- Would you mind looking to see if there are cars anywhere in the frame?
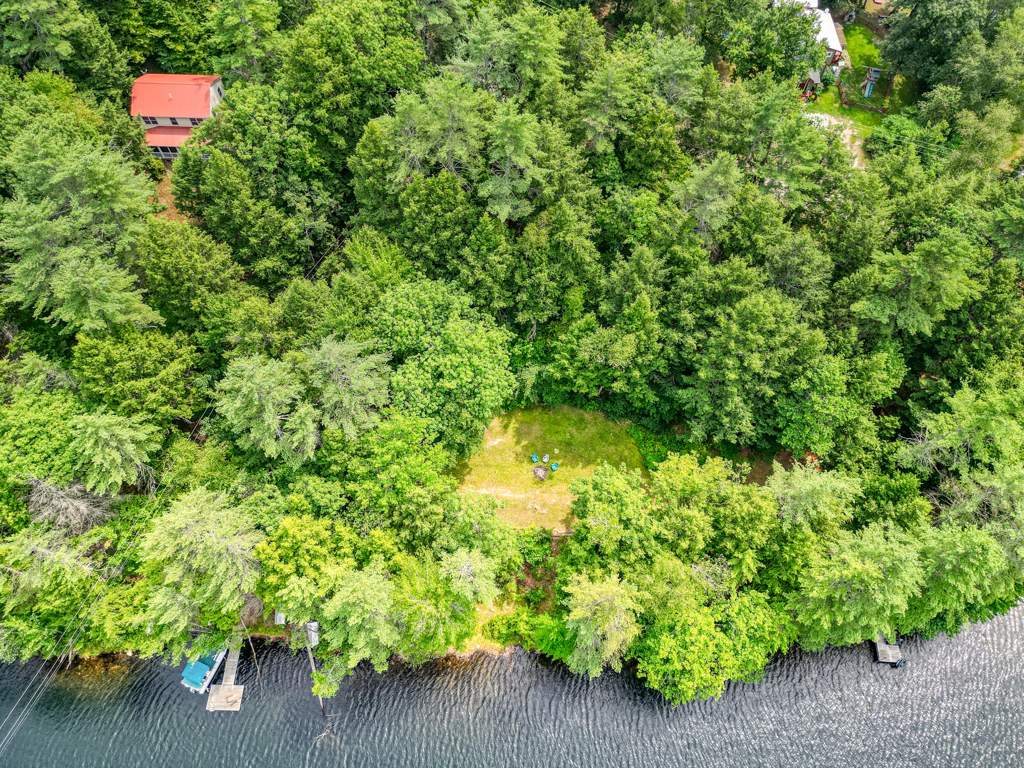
No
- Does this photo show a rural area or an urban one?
rural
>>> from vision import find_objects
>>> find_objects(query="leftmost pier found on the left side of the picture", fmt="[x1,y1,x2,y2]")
[204,644,245,712]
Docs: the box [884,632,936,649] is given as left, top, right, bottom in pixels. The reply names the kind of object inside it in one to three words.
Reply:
boat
